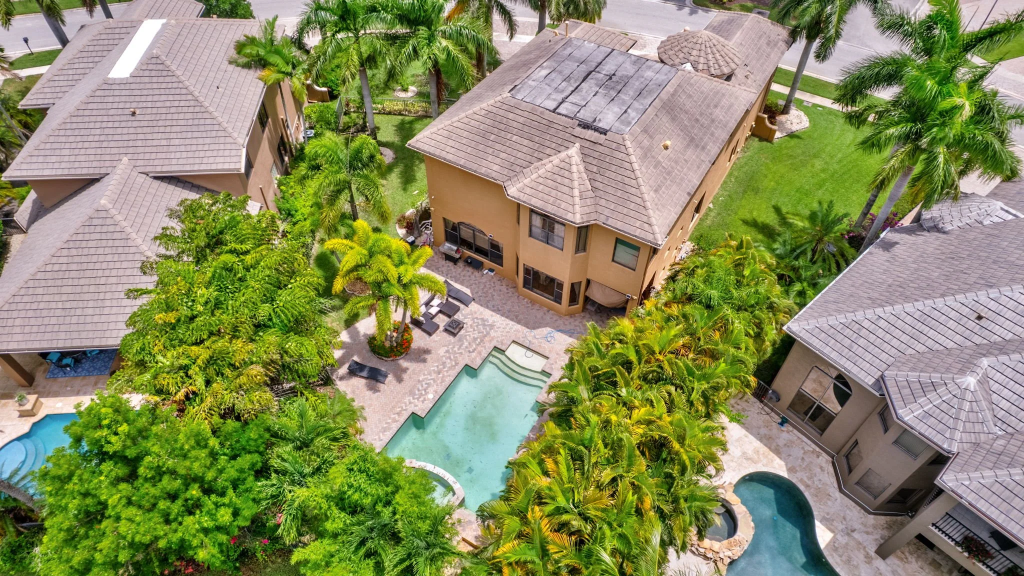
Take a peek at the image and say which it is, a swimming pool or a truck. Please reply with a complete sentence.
It is a swimming pool that can be seen here.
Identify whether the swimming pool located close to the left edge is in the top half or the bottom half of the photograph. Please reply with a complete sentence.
The bottom half of the photo is where the swimming pool located close to the left edge is.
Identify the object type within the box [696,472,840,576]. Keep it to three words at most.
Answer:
swimming pool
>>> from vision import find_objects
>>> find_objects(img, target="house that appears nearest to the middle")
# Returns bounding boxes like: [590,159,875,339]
[403,7,795,330]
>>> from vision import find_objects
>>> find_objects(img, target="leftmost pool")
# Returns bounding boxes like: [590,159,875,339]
[0,413,164,524]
